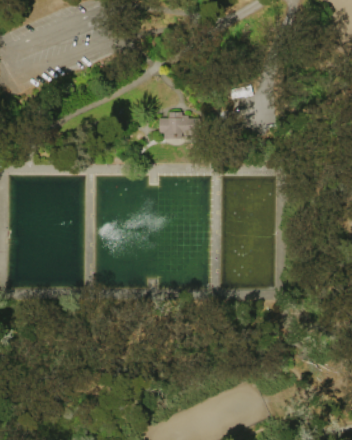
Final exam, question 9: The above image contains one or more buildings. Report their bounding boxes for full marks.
[159,111,195,139]
[231,86,254,99]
